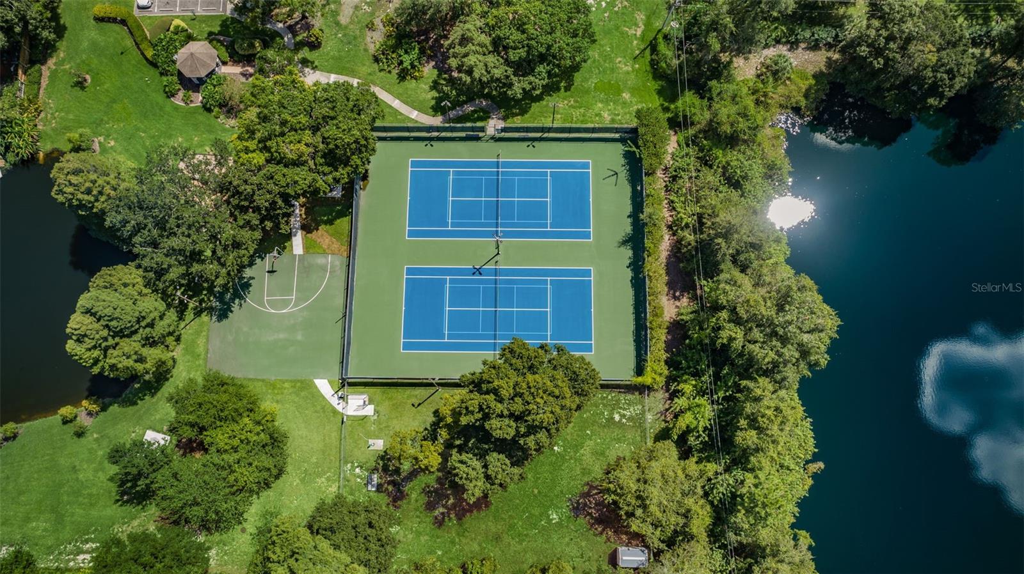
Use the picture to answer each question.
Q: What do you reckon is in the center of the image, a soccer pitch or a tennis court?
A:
tennis court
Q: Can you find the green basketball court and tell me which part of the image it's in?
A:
left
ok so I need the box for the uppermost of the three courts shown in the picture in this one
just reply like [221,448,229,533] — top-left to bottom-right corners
[407,159,591,240]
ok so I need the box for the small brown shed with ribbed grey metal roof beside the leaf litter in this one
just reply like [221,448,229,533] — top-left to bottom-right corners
[615,546,650,569]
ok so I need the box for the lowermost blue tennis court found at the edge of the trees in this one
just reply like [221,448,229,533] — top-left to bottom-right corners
[402,266,593,353]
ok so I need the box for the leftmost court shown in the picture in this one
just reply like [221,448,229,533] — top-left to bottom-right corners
[207,254,348,379]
